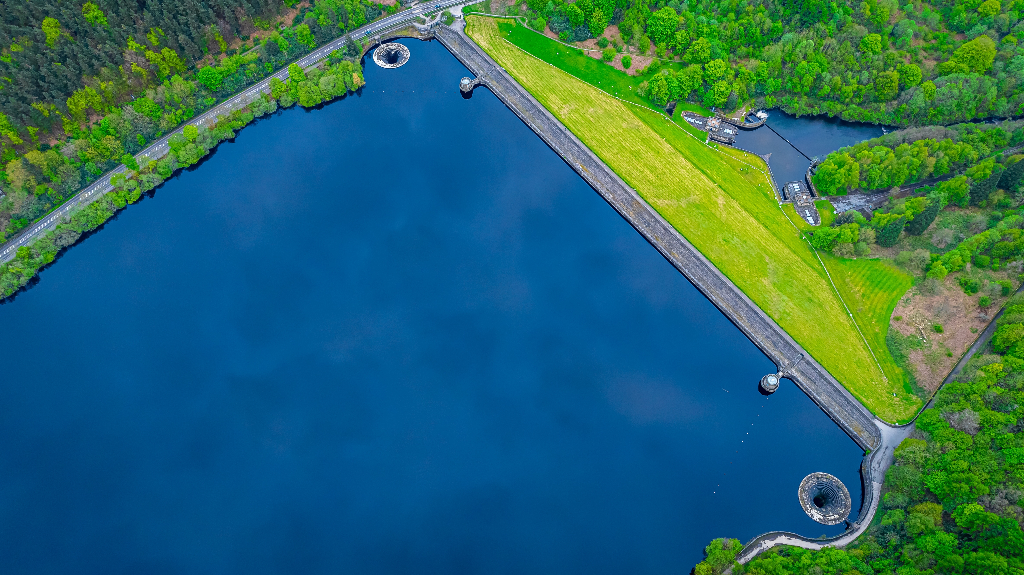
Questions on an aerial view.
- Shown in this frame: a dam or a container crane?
dam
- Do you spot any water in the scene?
Yes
